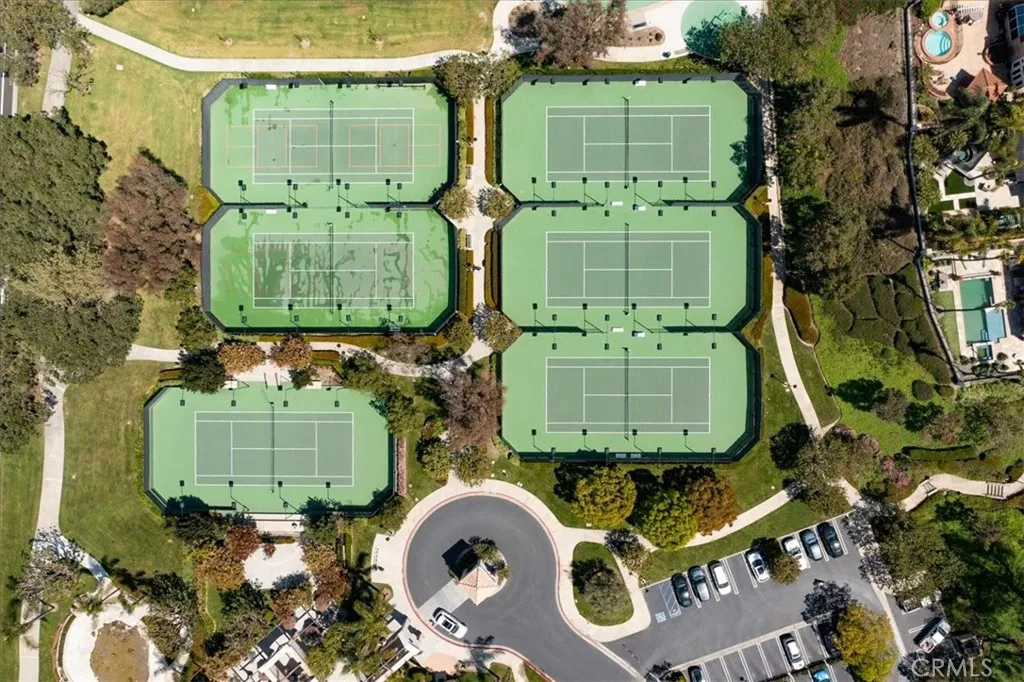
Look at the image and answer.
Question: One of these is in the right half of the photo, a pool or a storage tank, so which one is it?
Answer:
pool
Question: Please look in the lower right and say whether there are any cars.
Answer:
Yes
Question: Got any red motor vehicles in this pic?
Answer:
No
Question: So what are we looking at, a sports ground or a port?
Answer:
sports ground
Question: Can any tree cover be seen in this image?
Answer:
Yes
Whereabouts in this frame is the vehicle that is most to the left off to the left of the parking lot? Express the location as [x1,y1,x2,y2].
[435,609,468,638]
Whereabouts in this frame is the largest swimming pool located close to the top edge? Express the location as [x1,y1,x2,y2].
[919,24,957,61]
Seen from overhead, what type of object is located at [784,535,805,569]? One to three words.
car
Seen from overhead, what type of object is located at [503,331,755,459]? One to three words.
tennis court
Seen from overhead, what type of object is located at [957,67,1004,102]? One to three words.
building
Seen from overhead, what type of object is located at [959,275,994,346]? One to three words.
swimming pool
